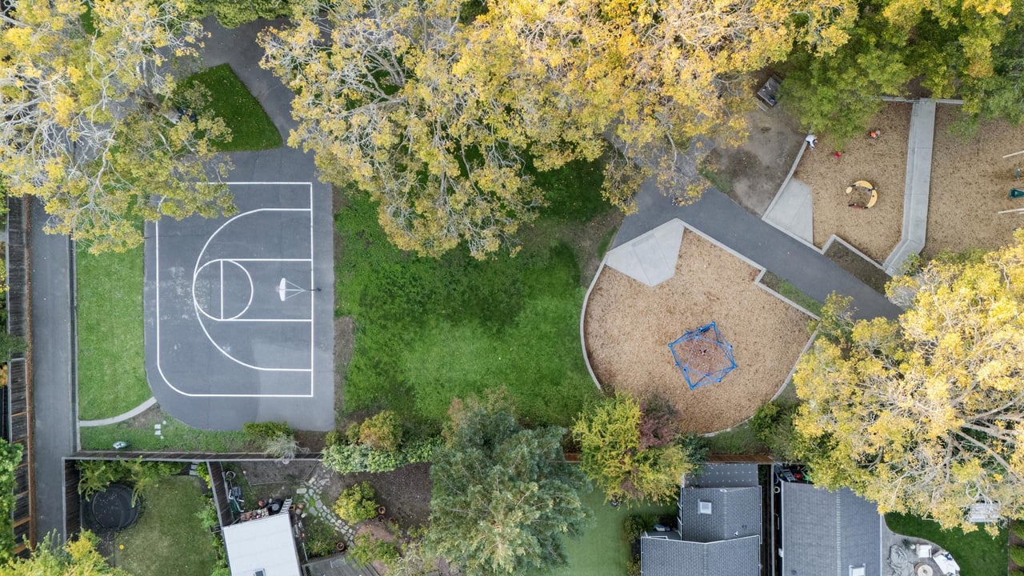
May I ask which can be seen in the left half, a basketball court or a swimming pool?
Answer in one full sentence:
Visible in the left half is a basketball court.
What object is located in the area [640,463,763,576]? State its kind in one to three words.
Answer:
house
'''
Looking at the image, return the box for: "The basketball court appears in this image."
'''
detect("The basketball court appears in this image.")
[145,149,334,431]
